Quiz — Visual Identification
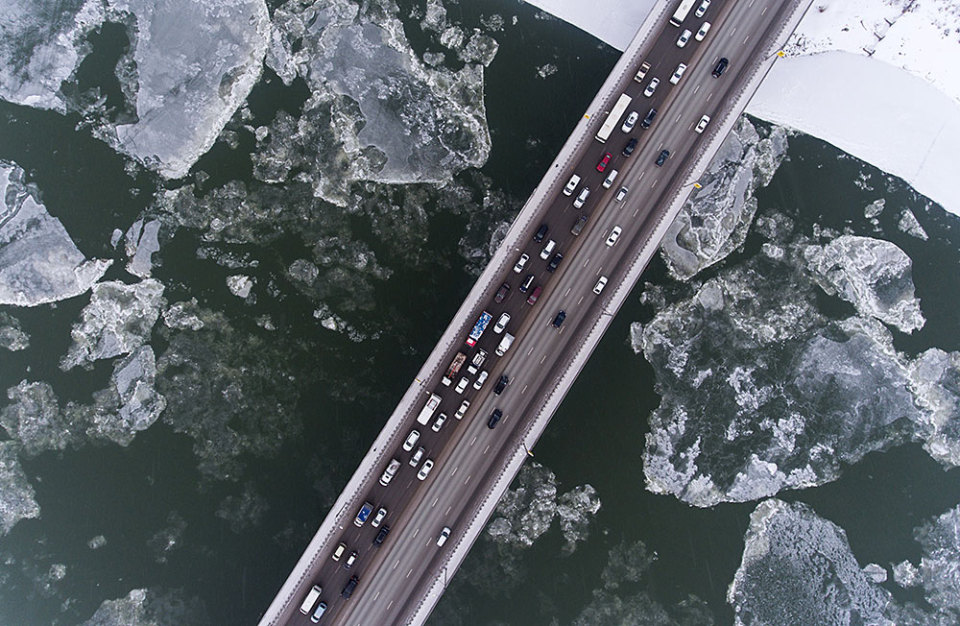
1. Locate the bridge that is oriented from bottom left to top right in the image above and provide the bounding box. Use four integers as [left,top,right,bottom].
[260,0,814,626]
